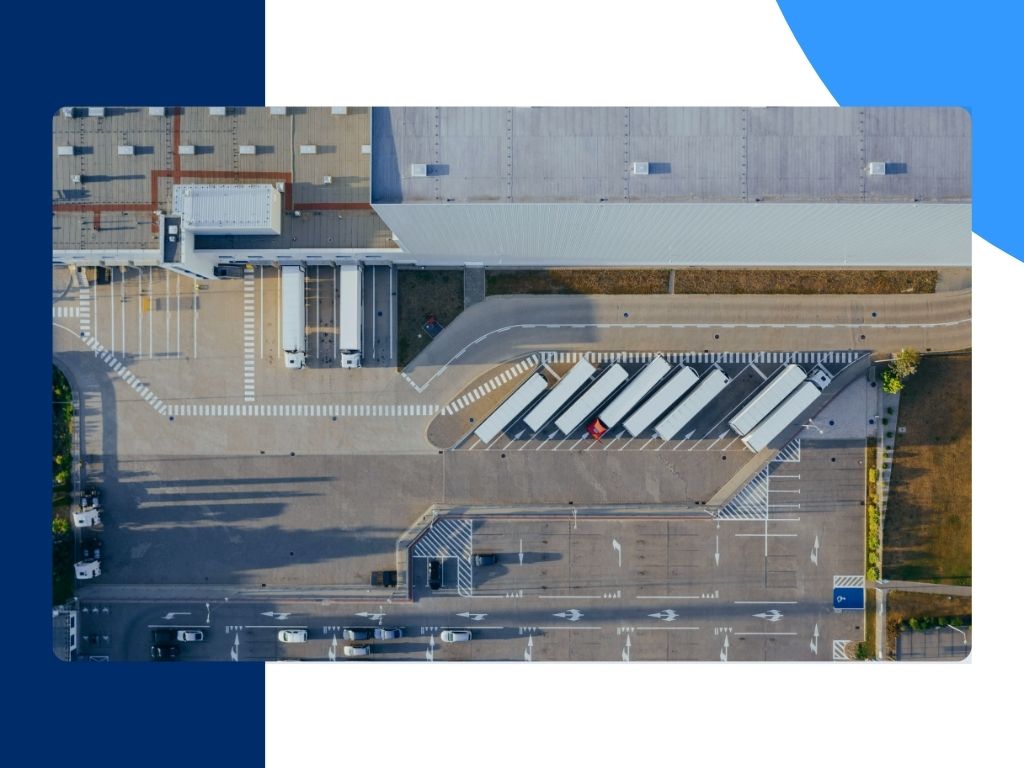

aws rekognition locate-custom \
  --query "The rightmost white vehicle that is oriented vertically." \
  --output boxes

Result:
[340,266,361,369]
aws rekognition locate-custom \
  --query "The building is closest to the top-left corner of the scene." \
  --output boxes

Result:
[0,0,412,282]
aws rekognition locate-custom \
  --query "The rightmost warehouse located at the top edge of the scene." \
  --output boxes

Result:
[371,0,1024,272]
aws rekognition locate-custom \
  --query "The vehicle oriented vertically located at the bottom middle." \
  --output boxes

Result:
[427,559,441,588]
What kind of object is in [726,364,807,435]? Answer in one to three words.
trailer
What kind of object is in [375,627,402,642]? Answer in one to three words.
car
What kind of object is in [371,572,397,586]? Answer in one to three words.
vehicle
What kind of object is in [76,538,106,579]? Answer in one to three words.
truck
